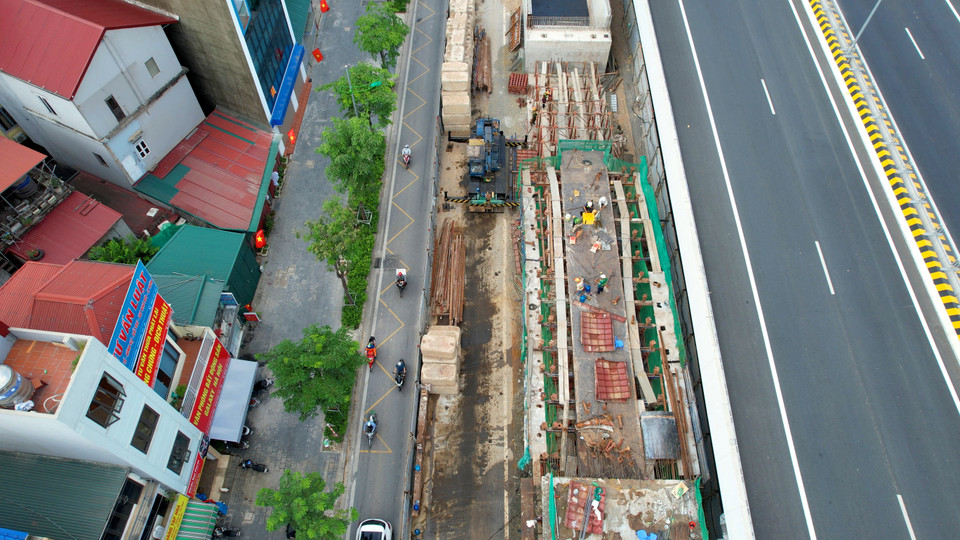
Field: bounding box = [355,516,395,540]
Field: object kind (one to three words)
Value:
car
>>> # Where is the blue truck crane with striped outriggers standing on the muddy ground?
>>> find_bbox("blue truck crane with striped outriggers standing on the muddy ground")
[442,114,528,218]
